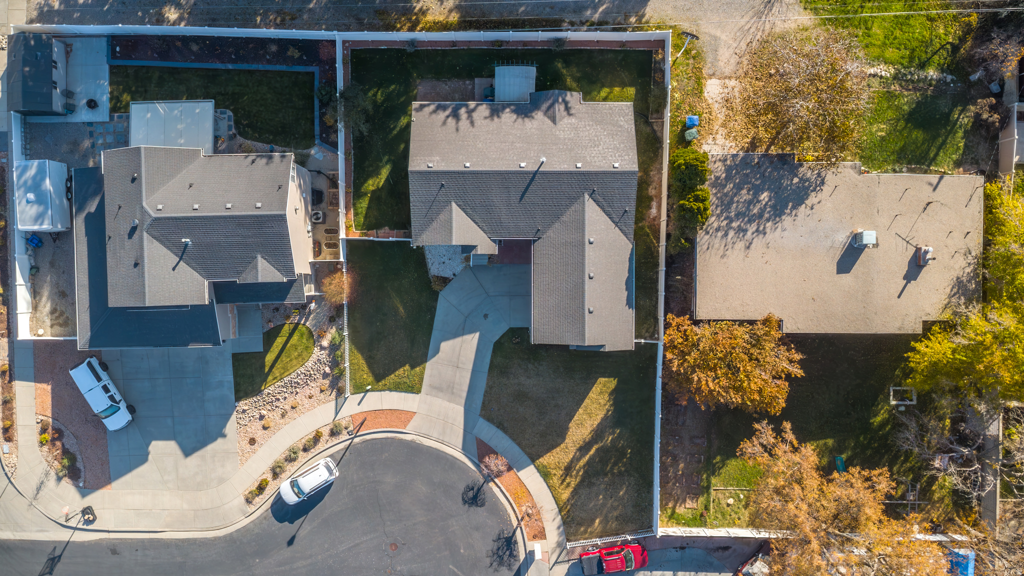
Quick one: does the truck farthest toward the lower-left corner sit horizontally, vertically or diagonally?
diagonally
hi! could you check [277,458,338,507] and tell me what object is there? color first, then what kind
white car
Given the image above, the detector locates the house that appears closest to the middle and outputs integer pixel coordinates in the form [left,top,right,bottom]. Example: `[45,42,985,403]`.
[408,90,639,352]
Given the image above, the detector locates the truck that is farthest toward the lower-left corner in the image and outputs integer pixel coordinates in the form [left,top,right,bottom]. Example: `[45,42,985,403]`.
[66,359,128,429]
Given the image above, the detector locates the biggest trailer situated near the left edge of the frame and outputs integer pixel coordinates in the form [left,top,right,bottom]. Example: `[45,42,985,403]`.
[14,157,71,248]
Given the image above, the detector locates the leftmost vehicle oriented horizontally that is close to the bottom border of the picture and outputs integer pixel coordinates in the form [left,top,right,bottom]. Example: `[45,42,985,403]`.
[578,538,650,575]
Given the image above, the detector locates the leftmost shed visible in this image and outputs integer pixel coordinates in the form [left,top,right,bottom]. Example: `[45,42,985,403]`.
[7,30,66,118]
